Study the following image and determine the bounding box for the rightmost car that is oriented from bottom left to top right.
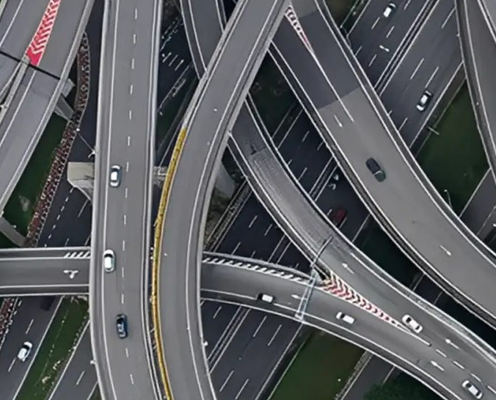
[415,89,433,111]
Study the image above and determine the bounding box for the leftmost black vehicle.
[39,296,56,313]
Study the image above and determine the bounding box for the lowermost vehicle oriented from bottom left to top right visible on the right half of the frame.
[330,203,347,223]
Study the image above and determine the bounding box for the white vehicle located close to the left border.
[17,340,33,361]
